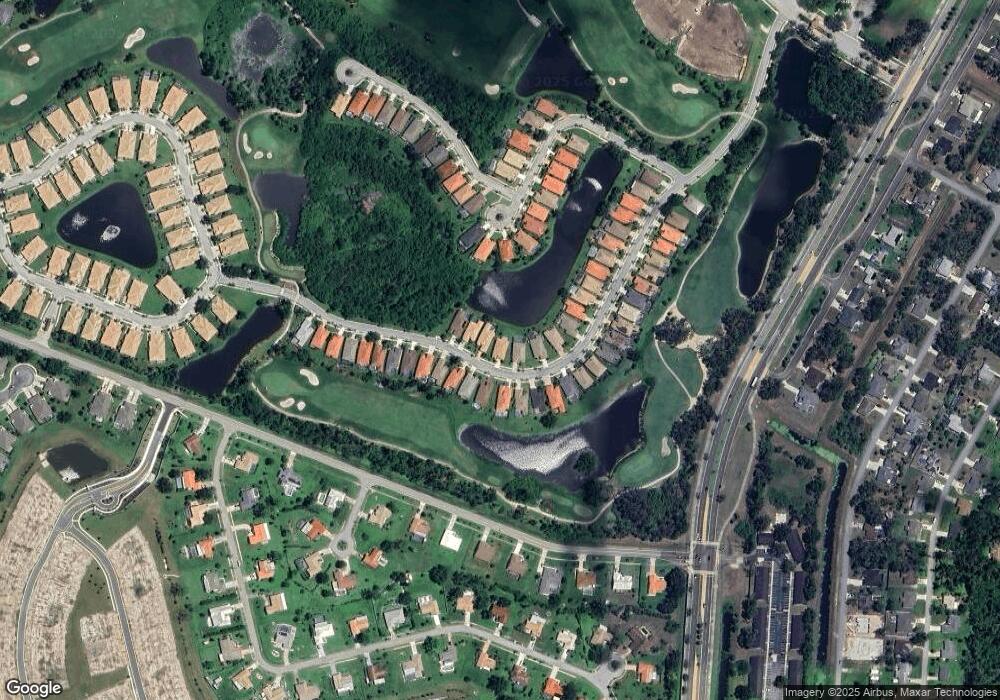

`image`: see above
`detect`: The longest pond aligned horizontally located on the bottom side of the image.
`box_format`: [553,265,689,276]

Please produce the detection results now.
[459,384,648,490]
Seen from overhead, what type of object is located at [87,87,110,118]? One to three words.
house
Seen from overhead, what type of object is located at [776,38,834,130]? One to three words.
pond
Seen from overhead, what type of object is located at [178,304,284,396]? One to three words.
pond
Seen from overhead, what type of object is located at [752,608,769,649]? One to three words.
building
